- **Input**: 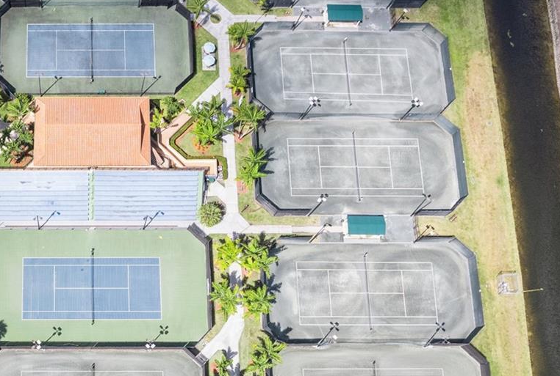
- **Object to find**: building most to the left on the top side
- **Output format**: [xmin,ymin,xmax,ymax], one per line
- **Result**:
[33,96,151,169]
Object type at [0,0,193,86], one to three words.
tennis court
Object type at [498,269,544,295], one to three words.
building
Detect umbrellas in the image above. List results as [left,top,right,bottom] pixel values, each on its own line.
[203,42,216,55]
[203,56,216,69]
